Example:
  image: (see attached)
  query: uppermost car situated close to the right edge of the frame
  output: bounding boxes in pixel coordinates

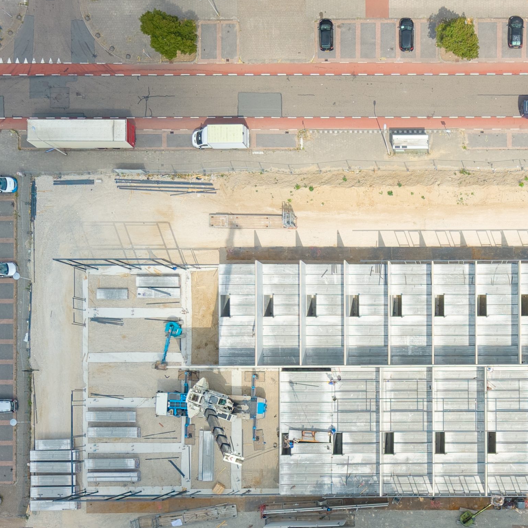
[507,15,525,50]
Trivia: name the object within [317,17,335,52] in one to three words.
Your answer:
car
